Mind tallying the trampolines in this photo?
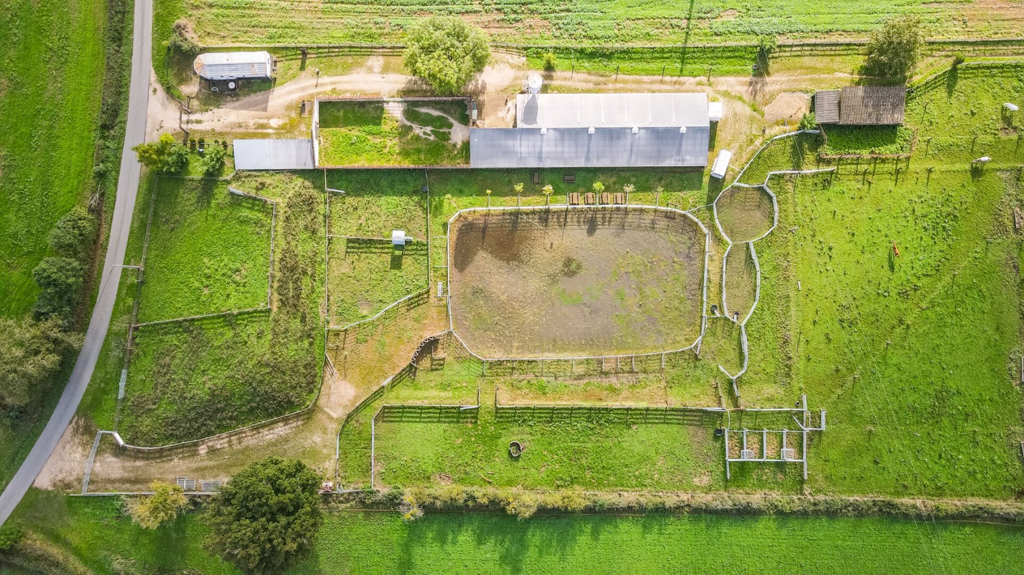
0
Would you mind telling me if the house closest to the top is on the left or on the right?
left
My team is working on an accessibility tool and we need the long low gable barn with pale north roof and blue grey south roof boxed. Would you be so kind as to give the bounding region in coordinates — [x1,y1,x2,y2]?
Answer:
[469,92,713,168]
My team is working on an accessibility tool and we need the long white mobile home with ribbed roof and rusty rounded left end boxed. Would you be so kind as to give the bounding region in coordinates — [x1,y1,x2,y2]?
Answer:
[194,51,271,80]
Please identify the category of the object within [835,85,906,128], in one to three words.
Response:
shed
